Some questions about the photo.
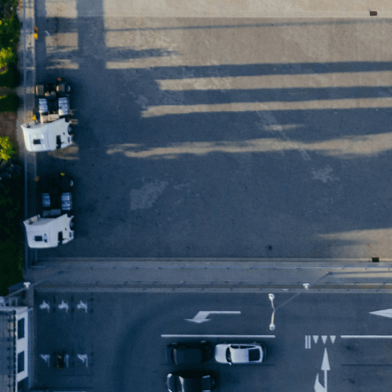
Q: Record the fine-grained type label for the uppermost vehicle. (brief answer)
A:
truck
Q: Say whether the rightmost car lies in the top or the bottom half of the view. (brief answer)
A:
bottom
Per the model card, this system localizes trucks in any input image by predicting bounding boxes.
[24,174,80,248]
[21,80,77,152]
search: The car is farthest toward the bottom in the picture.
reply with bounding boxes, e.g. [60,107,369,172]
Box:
[168,370,217,392]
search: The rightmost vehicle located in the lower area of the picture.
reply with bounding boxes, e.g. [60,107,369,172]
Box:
[217,340,269,368]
